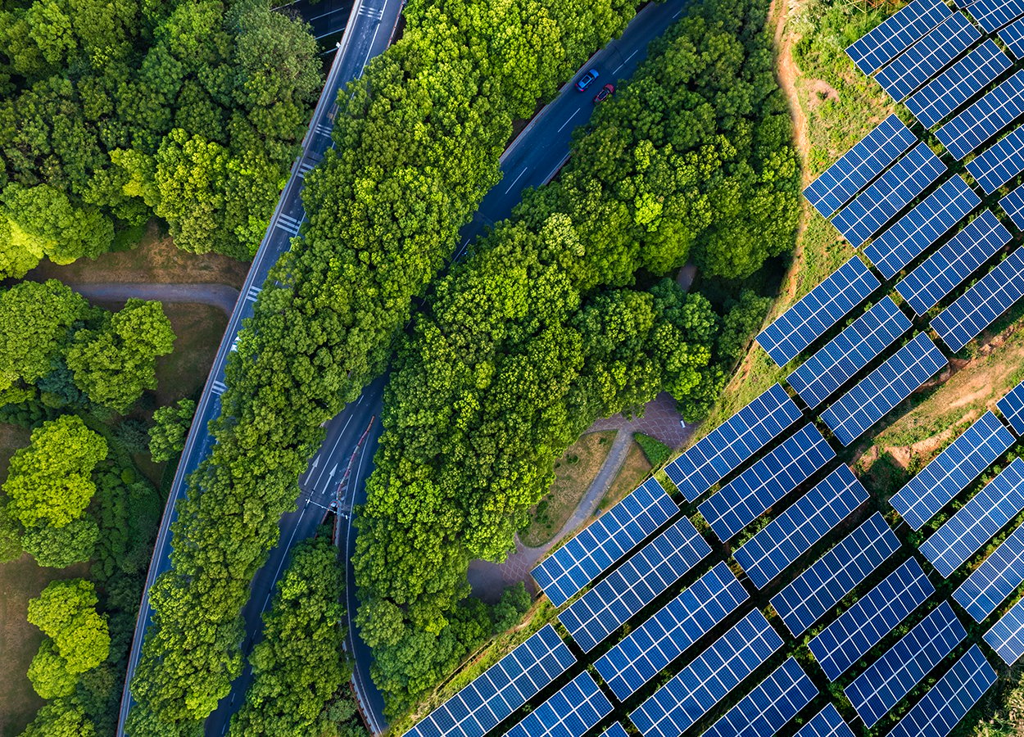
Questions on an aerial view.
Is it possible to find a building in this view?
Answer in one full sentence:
No, the photo shows no building.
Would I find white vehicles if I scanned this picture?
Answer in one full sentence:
No, the picture doesn't show any white vehicle.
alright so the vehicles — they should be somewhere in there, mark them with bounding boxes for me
[592,82,617,106]
[573,68,600,95]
